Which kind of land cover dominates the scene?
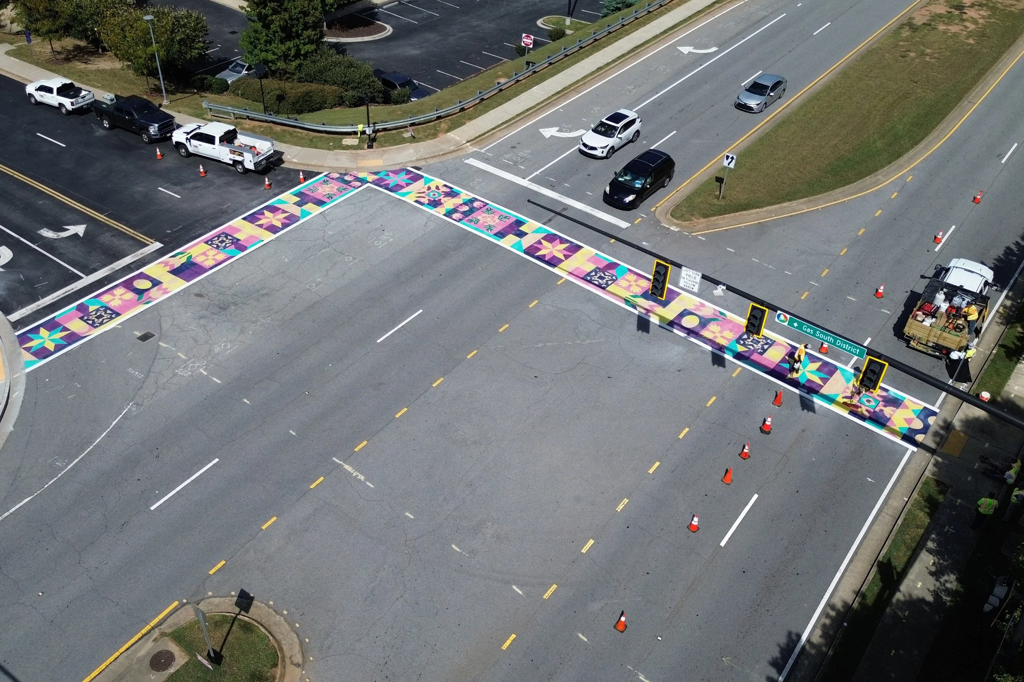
paved ground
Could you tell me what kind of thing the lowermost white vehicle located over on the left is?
truck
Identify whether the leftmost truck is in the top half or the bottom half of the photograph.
top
